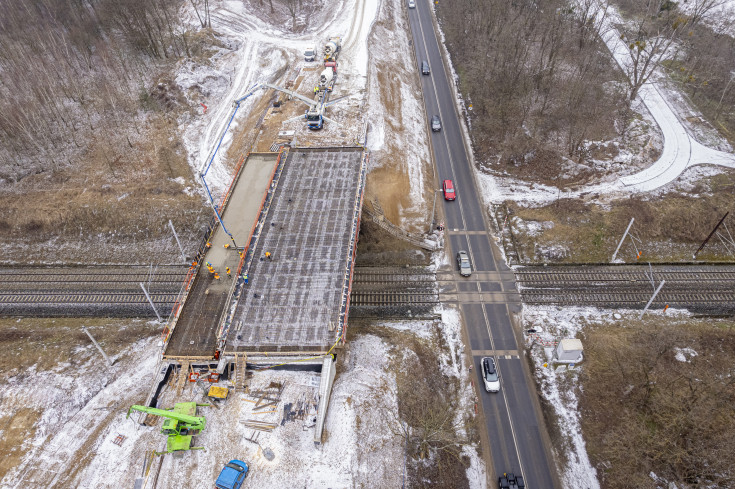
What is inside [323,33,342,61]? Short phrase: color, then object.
white vehicle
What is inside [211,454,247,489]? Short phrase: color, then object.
blue car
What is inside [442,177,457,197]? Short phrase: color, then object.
red car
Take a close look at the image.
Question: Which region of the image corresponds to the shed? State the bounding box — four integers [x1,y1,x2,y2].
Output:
[553,338,582,364]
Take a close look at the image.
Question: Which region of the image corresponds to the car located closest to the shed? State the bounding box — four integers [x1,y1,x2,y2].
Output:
[477,353,499,390]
